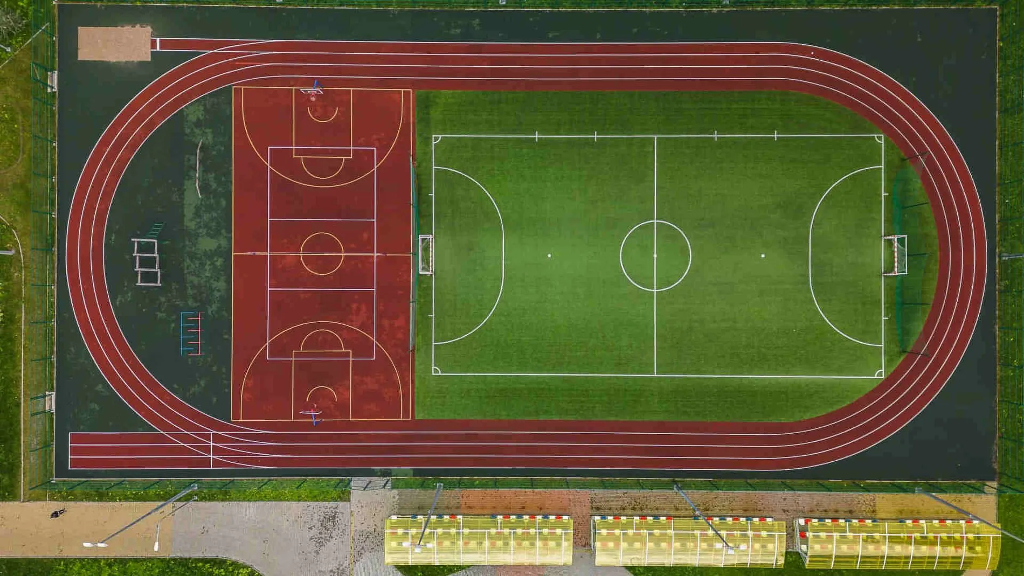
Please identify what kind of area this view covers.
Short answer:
sports ground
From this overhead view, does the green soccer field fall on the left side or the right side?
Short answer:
right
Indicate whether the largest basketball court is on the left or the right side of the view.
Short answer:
left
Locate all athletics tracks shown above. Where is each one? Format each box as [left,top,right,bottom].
[66,40,987,470]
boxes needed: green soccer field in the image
[416,90,938,422]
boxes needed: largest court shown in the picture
[232,86,416,421]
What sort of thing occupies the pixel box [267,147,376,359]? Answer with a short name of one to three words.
sports court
